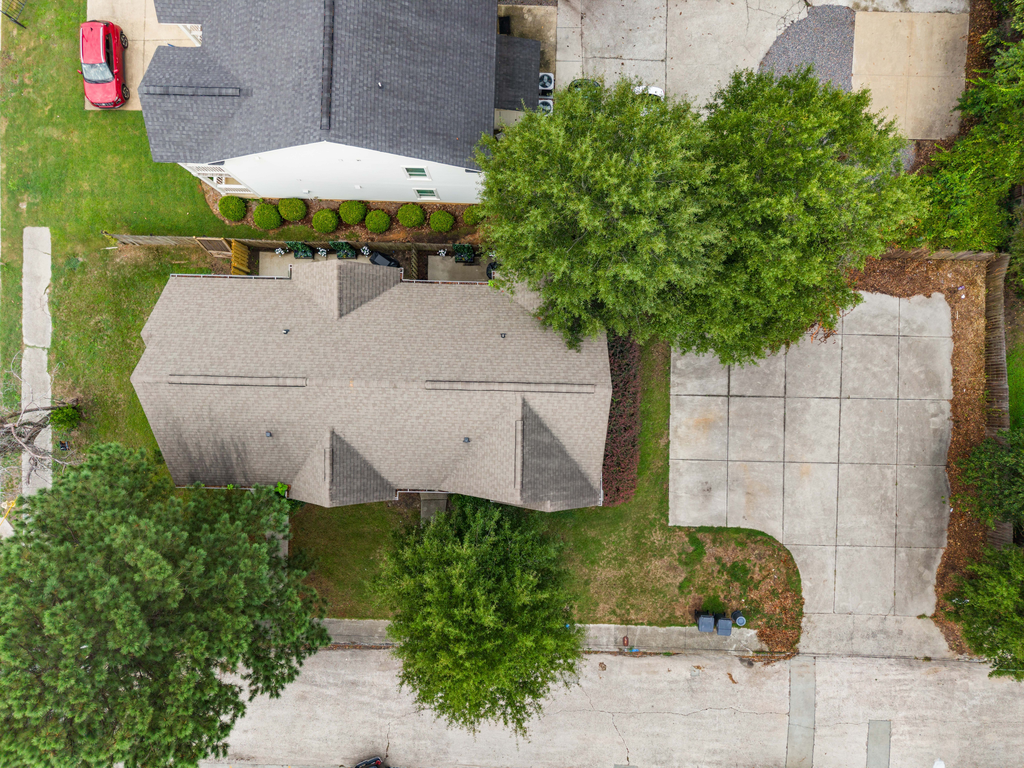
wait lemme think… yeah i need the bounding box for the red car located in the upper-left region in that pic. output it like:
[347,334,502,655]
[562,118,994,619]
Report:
[76,20,130,110]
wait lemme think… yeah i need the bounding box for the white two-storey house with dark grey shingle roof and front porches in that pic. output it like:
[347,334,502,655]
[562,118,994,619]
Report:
[137,0,541,203]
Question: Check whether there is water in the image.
No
